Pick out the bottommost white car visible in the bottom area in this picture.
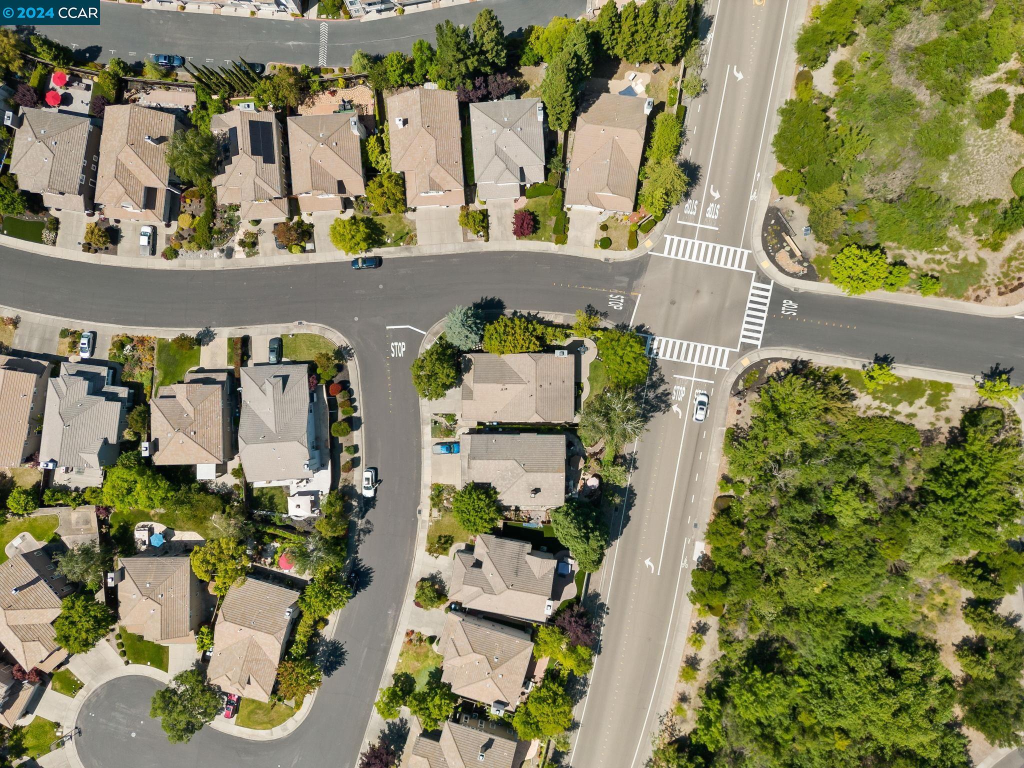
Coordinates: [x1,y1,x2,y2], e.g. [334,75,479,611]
[362,466,382,497]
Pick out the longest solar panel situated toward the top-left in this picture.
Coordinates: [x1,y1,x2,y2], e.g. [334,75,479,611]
[250,120,275,164]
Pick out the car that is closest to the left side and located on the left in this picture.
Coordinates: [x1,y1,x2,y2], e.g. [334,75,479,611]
[79,329,98,361]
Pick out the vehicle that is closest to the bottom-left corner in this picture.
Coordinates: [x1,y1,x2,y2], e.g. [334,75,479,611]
[225,694,241,720]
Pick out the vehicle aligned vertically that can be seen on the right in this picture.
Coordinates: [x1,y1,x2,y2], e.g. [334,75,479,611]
[692,392,710,424]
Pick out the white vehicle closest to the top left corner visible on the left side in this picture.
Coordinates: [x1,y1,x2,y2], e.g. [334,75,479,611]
[139,224,157,260]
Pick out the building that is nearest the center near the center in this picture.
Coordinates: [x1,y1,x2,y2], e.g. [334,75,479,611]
[461,350,575,422]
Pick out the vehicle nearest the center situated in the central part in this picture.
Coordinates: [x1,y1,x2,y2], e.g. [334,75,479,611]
[431,441,460,456]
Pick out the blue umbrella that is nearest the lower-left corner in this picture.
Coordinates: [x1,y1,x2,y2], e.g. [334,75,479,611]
[150,533,166,548]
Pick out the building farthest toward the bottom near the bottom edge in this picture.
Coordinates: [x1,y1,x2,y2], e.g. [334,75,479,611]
[400,708,518,768]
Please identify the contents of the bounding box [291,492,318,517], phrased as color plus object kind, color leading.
white gazebo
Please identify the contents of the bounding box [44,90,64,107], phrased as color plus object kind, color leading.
red umbrella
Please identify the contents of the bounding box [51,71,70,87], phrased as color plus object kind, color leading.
red umbrella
